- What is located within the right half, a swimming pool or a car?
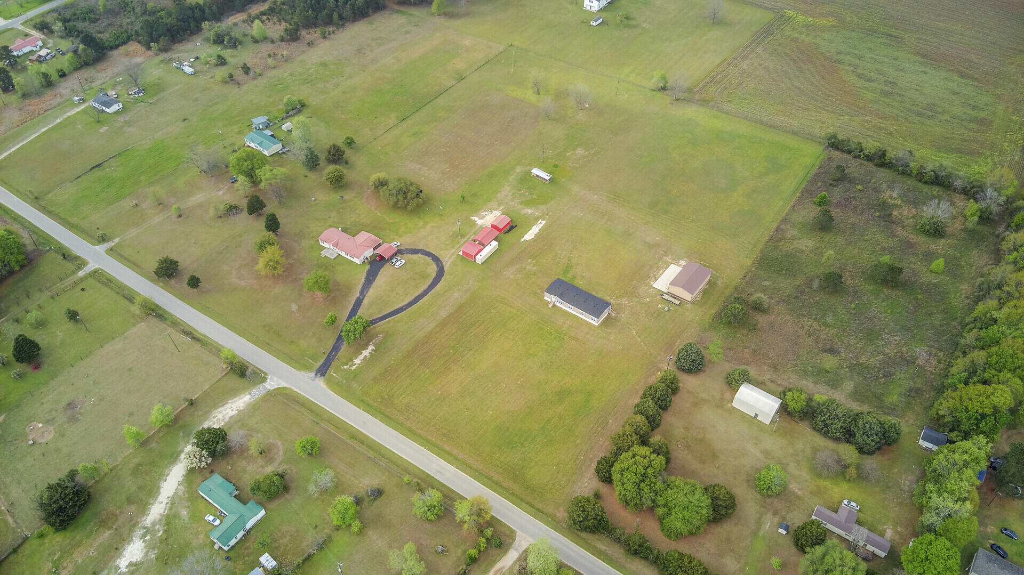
car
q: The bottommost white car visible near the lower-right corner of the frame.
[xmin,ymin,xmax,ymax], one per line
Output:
[843,498,862,512]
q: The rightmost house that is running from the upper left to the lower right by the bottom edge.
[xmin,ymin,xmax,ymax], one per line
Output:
[813,504,892,558]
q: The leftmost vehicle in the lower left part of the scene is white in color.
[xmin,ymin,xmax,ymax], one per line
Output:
[203,515,221,527]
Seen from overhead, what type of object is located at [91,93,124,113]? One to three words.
house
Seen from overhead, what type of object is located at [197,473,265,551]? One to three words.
building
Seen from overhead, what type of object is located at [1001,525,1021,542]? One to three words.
car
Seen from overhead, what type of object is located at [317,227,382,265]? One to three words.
house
